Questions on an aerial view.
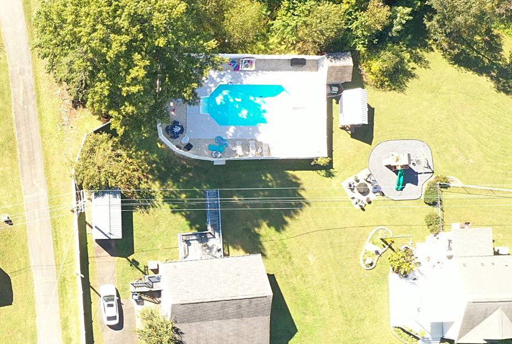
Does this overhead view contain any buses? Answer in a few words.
No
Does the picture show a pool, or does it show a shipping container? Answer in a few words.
pool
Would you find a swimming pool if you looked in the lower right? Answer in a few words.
No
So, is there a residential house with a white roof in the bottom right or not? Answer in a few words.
Yes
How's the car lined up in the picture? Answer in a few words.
from top to bottom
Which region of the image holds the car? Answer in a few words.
bottom left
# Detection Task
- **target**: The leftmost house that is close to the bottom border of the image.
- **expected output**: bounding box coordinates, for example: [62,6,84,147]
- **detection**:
[159,254,277,344]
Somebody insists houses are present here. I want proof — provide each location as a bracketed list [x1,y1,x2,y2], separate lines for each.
[412,224,512,344]
[159,254,277,344]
